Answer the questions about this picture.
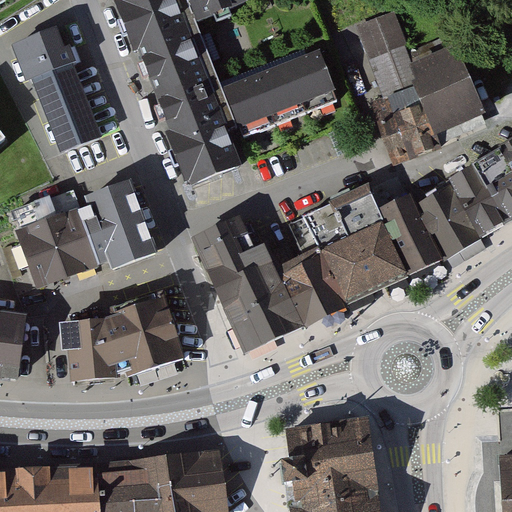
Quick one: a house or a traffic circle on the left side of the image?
house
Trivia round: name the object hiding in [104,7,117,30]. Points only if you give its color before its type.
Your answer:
white vehicle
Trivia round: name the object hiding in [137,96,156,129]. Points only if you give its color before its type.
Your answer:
white vehicle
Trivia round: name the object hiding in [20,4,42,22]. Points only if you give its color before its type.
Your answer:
white car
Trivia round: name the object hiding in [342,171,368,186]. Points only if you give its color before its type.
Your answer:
black car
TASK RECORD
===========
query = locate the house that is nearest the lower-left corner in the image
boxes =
[0,464,104,512]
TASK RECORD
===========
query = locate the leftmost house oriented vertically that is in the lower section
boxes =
[0,310,28,380]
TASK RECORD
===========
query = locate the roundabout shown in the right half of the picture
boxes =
[348,312,462,424]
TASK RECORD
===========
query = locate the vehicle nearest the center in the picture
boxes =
[270,222,284,242]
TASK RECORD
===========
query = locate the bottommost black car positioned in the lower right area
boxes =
[379,408,394,431]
